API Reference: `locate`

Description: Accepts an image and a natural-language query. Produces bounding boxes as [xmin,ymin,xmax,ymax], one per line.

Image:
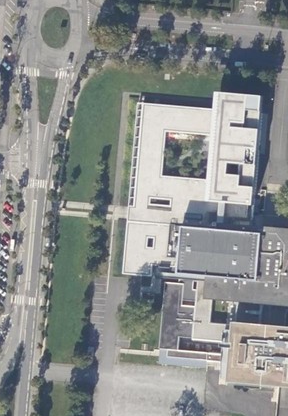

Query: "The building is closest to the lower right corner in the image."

[226,322,288,391]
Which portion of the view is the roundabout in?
top left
